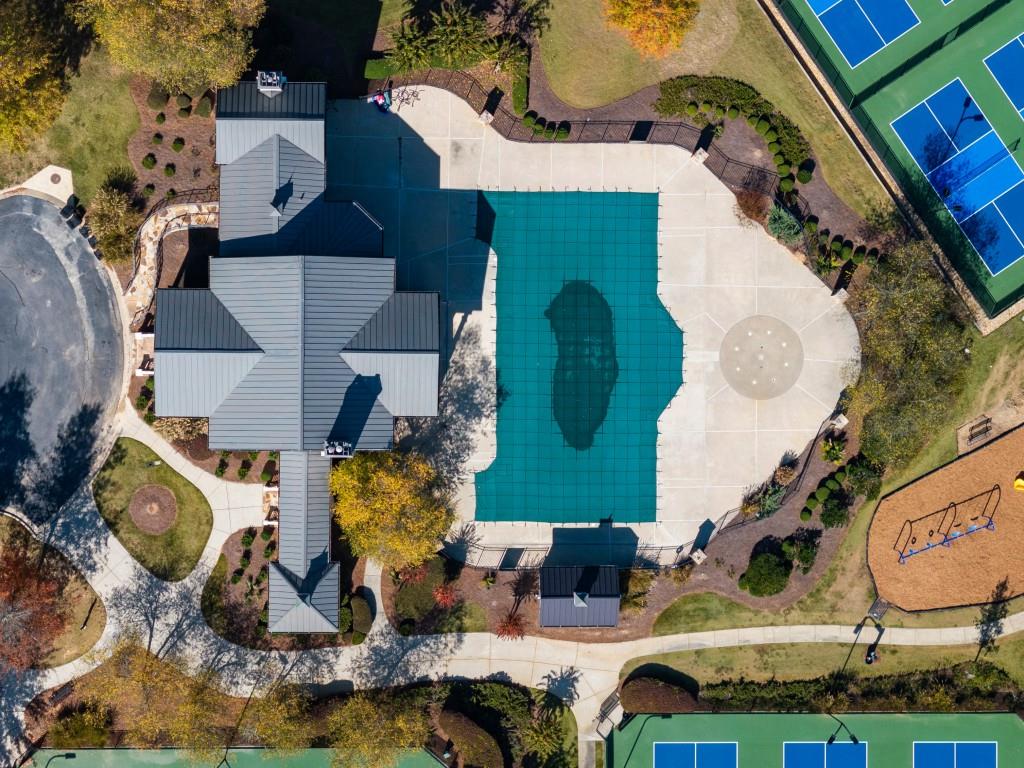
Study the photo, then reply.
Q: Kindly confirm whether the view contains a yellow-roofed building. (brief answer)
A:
No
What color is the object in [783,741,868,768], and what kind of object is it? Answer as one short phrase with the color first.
blue sports court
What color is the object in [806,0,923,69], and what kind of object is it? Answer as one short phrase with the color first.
blue sports court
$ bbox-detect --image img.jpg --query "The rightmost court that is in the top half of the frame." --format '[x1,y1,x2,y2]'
[983,34,1024,120]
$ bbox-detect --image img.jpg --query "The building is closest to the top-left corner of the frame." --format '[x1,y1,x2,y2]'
[154,70,440,633]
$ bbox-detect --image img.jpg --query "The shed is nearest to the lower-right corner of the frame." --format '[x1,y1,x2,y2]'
[536,564,620,629]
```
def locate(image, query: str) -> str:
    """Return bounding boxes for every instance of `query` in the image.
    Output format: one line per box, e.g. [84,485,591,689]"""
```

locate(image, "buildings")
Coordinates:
[536,564,620,629]
[154,70,440,633]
